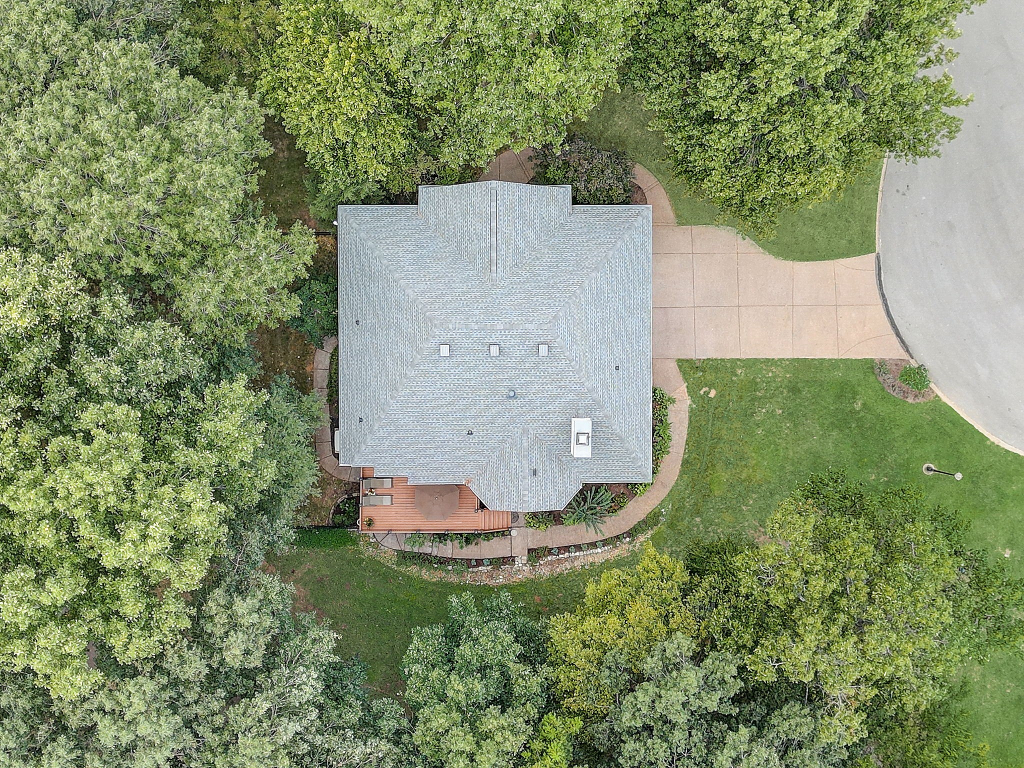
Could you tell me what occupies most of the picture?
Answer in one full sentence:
The scene is dominated by trees.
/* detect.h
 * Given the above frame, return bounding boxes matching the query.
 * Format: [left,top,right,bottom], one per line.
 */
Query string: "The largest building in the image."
[337,180,654,513]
